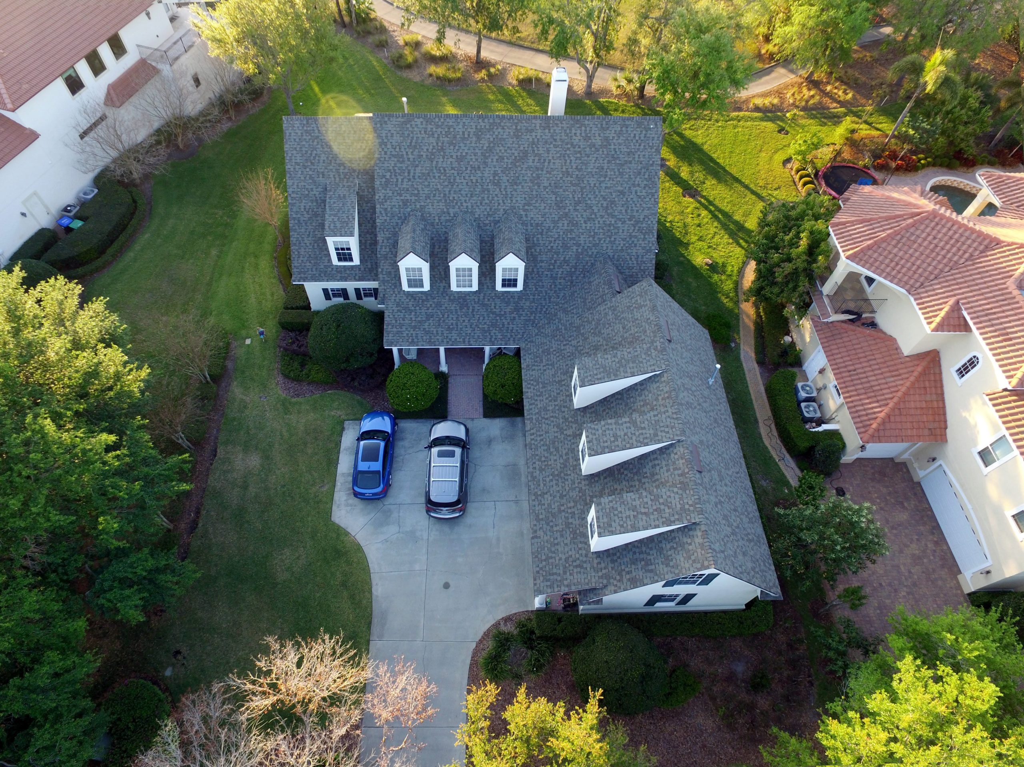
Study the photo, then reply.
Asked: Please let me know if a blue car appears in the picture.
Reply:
Yes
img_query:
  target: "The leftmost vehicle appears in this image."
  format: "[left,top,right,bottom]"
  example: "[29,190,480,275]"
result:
[349,411,398,504]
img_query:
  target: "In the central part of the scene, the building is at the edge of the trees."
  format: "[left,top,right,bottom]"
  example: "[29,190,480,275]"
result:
[282,63,782,615]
